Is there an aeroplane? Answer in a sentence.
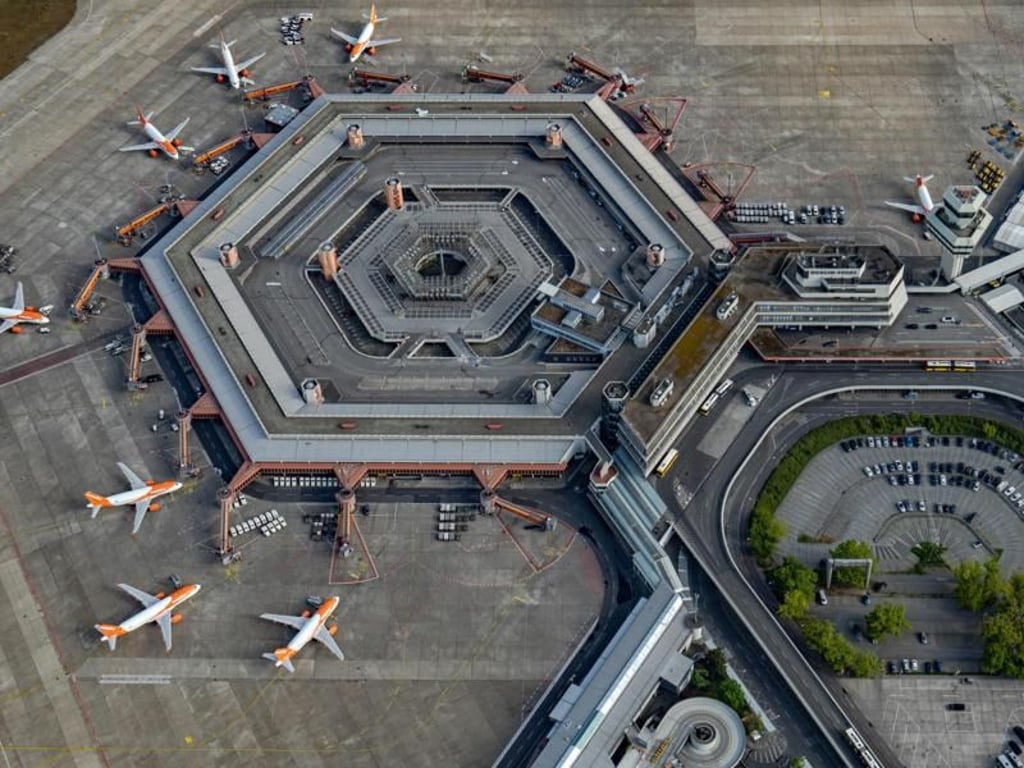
Yes, the picture does show an aeroplane.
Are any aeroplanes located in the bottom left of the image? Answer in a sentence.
Yes, looking in the bottom left of the image, one can make out an aeroplane.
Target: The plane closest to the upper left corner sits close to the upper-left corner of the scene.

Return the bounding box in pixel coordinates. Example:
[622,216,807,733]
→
[121,105,188,158]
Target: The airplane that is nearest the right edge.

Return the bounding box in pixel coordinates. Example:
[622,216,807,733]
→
[885,170,937,227]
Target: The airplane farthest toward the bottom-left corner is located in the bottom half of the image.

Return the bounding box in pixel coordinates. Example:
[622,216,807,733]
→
[101,584,200,651]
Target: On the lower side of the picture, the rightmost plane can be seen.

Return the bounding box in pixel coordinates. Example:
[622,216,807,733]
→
[260,599,342,671]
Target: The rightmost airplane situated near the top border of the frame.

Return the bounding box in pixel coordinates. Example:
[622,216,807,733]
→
[332,4,400,61]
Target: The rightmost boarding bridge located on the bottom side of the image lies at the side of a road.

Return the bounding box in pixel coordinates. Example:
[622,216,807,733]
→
[480,487,557,532]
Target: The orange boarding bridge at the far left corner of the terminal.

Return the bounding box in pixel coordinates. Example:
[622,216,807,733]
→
[71,240,114,319]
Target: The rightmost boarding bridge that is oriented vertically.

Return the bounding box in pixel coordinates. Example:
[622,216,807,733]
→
[338,486,356,553]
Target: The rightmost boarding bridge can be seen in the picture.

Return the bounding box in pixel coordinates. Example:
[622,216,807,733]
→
[698,168,736,218]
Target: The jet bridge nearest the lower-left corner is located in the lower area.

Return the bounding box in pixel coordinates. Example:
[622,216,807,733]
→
[217,486,236,564]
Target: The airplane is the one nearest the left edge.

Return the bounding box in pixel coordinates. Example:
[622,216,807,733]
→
[0,282,48,333]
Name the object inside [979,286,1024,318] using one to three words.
shed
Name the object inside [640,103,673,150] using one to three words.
jet bridge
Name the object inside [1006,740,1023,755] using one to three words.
car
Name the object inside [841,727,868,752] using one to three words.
bus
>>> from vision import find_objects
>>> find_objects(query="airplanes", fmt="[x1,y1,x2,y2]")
[260,599,342,671]
[82,459,182,530]
[885,170,937,227]
[0,282,48,333]
[101,584,200,651]
[192,33,262,88]
[332,4,400,61]
[121,105,188,158]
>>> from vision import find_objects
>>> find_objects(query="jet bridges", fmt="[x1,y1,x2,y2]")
[567,54,623,95]
[129,306,150,389]
[480,487,557,532]
[71,240,114,319]
[698,168,736,218]
[192,128,256,170]
[217,486,236,564]
[246,74,314,108]
[176,390,195,471]
[338,486,356,553]
[114,195,180,242]
[640,103,673,150]
[464,69,524,88]
[352,60,412,91]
